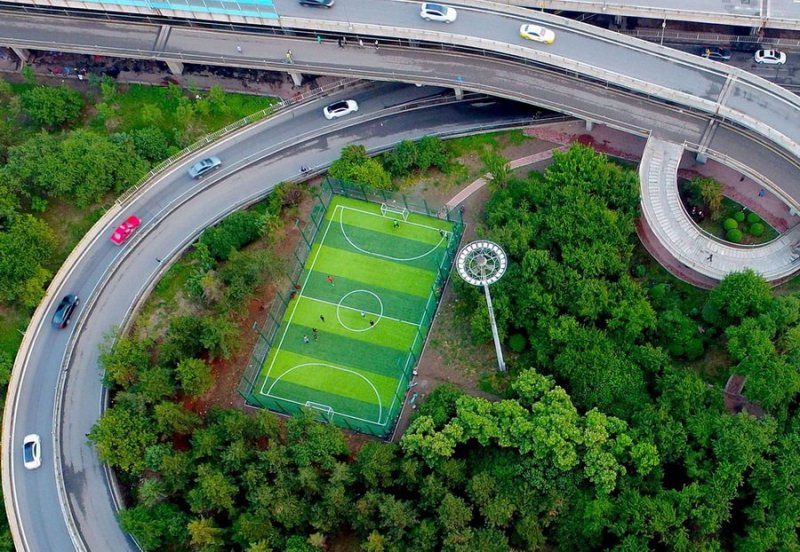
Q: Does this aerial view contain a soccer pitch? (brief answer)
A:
Yes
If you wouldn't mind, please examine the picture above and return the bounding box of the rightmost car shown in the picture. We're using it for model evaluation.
[755,49,786,66]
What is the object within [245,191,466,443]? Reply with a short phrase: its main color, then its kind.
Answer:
green soccer field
